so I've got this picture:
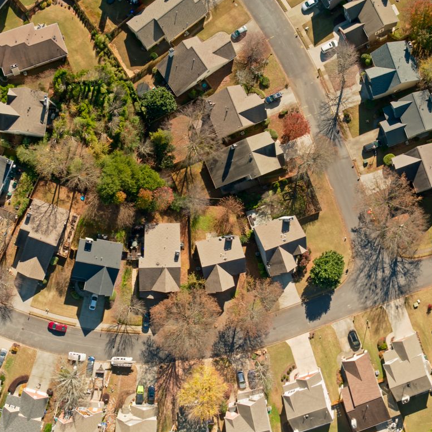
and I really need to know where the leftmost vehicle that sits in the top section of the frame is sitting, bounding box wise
[230,25,248,39]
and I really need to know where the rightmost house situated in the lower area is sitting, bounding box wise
[382,332,432,404]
